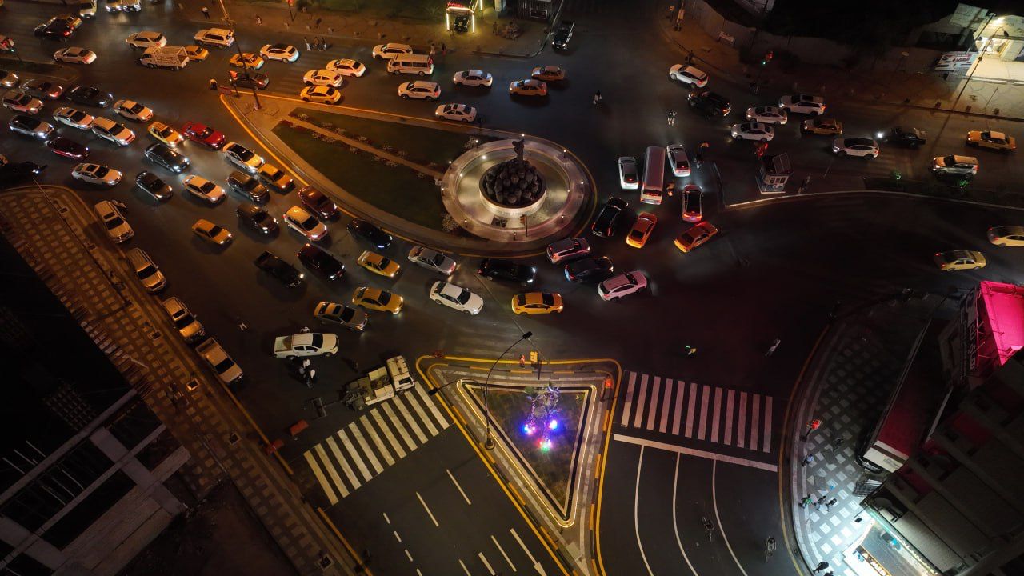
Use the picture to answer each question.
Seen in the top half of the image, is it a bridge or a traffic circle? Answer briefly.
traffic circle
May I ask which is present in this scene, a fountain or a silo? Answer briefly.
fountain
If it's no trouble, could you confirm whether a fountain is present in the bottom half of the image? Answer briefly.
No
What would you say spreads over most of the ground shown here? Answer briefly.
paved ground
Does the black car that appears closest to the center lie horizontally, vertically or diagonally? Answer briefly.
horizontally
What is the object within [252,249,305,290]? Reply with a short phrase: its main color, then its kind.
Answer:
black truck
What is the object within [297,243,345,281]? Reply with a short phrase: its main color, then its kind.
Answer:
black car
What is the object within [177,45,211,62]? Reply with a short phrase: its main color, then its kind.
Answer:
orange car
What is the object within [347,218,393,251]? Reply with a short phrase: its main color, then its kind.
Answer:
black car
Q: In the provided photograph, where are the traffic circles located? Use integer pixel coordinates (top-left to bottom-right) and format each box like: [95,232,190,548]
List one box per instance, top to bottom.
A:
[227,92,595,255]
